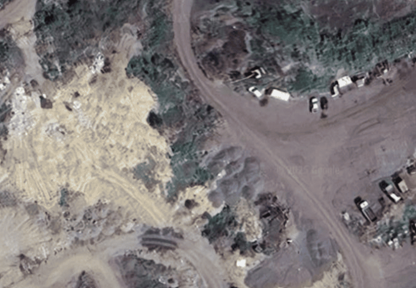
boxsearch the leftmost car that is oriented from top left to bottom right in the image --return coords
[247,86,264,100]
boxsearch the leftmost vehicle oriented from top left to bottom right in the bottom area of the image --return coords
[357,199,378,227]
